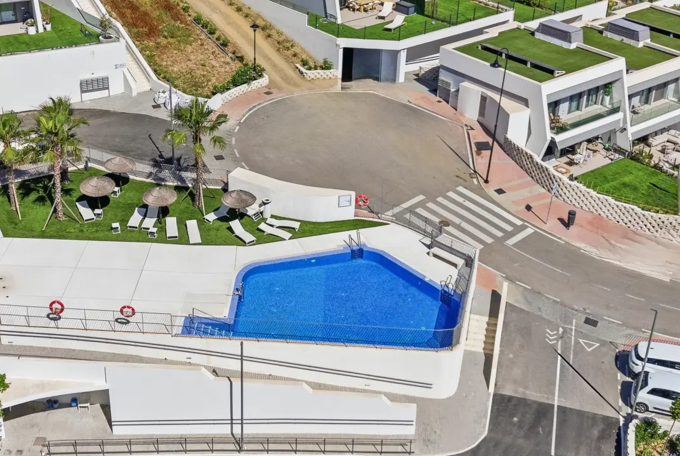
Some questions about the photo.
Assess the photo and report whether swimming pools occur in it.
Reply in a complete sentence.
Yes, there's a swimming pool here.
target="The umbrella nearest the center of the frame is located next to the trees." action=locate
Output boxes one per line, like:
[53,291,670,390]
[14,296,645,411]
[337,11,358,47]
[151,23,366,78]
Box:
[221,184,261,219]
